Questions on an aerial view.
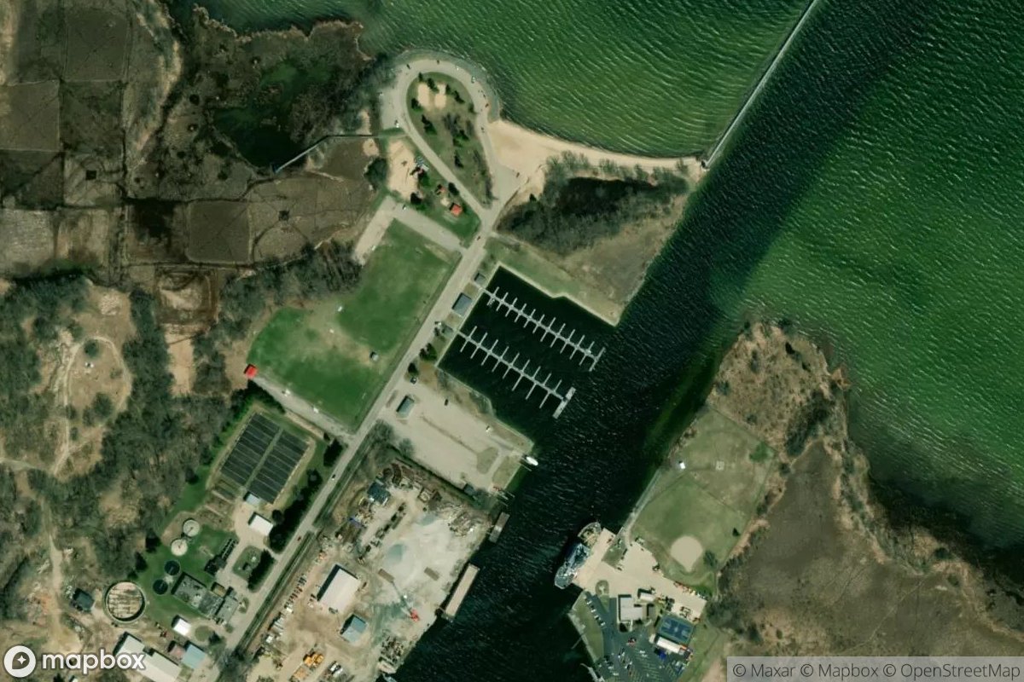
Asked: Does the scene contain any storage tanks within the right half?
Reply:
No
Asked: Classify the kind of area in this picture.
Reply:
port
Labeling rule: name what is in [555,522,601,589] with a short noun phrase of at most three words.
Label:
ship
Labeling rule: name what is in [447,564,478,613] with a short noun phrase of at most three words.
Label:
ship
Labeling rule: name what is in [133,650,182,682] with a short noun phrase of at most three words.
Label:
building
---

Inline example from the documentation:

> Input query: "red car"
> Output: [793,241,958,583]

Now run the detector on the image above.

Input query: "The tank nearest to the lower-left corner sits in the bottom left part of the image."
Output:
[104,582,145,623]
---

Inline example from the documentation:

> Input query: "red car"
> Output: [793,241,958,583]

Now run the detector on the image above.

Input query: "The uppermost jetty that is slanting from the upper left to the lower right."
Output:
[484,286,605,371]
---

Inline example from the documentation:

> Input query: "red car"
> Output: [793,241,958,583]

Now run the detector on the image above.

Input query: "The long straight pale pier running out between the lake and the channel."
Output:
[706,0,815,168]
